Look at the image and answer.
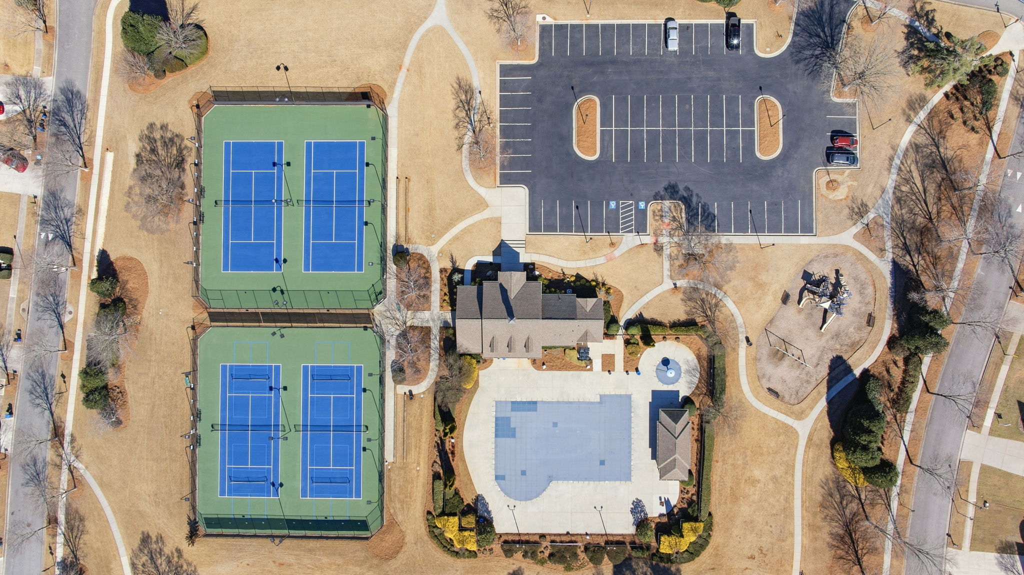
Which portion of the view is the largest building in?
center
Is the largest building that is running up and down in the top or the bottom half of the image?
bottom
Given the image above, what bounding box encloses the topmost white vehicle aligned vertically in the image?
[665,21,679,52]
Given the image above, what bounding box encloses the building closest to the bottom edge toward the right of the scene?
[655,409,691,482]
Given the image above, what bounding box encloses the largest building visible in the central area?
[456,271,604,358]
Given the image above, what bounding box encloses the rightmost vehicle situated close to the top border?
[728,17,742,52]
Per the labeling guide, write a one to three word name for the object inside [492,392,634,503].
swimming pool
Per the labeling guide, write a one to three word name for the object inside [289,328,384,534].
tennis court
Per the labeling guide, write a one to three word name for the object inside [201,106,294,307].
tennis court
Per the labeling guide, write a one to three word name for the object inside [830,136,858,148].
vehicle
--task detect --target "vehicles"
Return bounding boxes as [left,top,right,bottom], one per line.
[830,136,858,148]
[728,17,742,52]
[829,153,857,166]
[0,152,27,172]
[665,21,679,52]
